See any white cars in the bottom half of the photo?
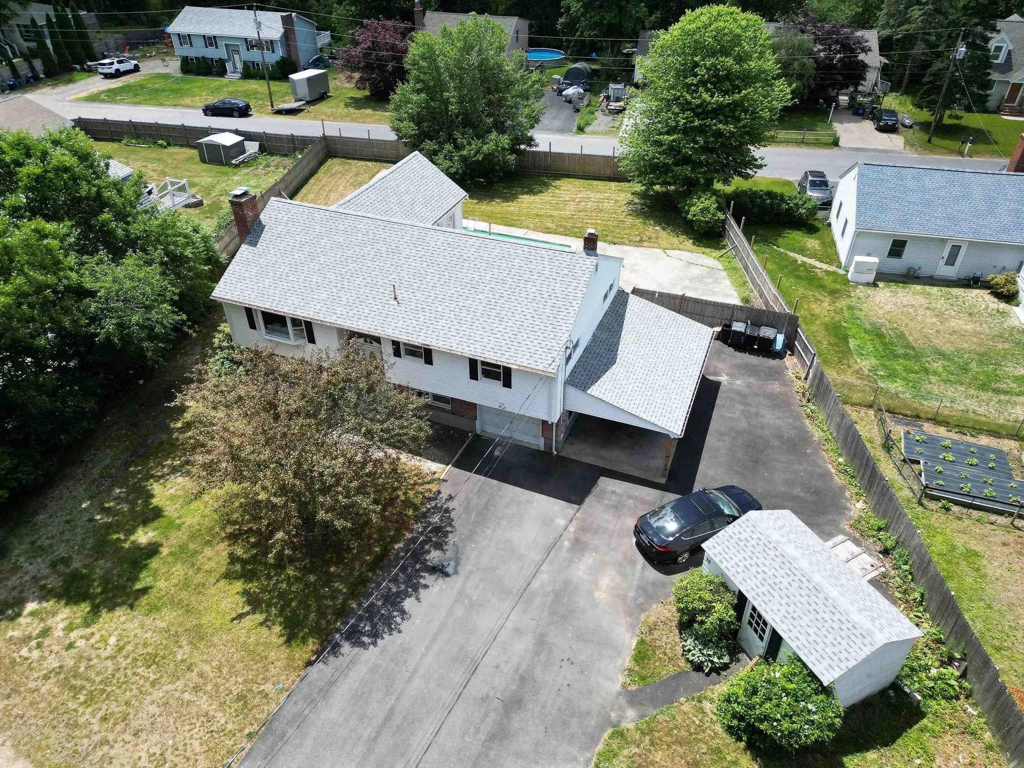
No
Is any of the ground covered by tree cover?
Yes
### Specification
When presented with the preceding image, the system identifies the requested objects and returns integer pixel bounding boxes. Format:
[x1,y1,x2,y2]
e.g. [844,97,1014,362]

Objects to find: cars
[88,52,139,76]
[633,477,768,564]
[197,93,254,117]
[859,103,904,127]
[786,161,838,203]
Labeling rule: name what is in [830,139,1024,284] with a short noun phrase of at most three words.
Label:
house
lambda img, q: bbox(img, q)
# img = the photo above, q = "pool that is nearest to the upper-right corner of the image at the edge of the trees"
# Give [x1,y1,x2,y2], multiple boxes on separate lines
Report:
[519,47,564,71]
